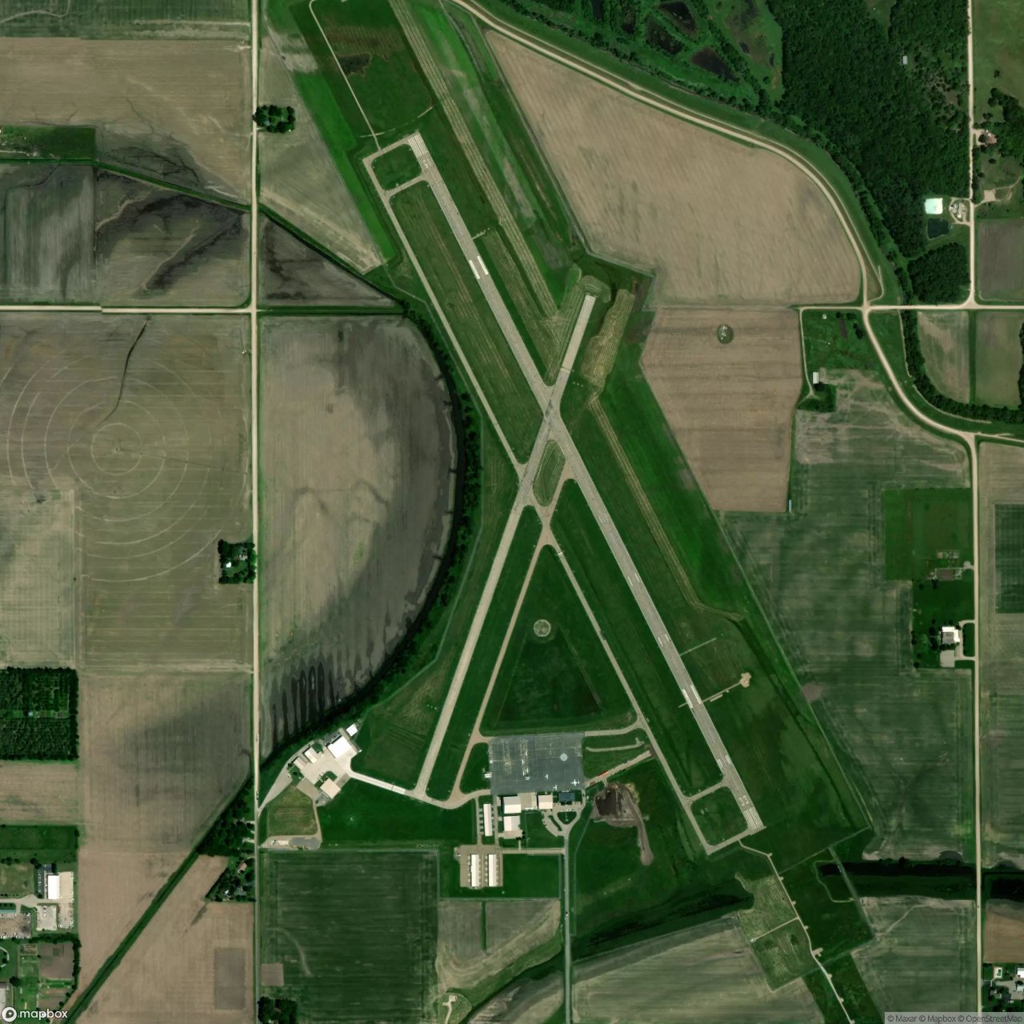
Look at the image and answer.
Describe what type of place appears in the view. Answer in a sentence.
What you see here is farmland.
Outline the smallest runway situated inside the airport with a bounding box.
[413,294,596,796]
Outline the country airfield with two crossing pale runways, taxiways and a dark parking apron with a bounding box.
[344,131,767,853]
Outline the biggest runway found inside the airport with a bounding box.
[406,131,763,833]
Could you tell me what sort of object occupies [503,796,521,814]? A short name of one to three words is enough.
hangar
